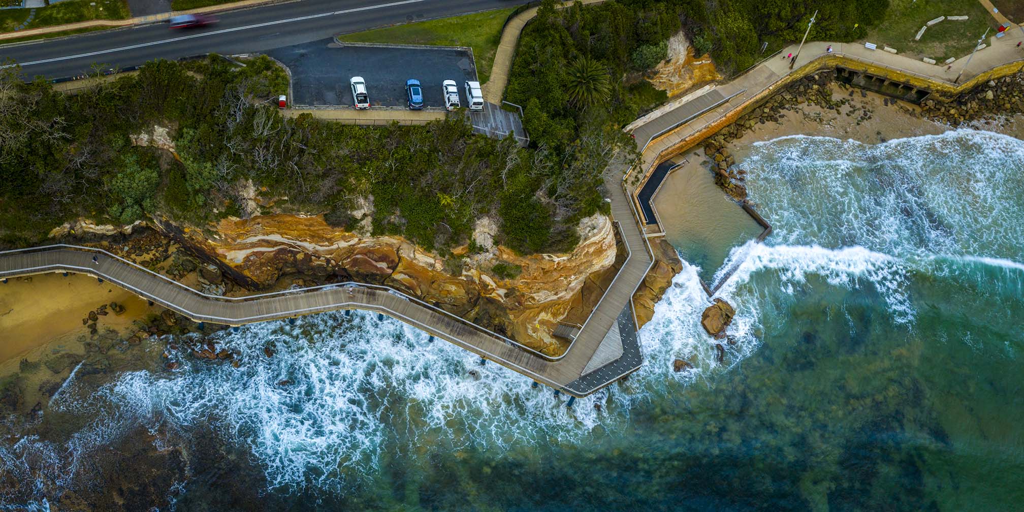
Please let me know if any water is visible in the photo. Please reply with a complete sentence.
Yes, the picture does contain water.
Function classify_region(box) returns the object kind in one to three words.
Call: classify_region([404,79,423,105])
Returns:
car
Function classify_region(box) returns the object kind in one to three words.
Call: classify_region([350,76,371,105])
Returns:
vehicle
